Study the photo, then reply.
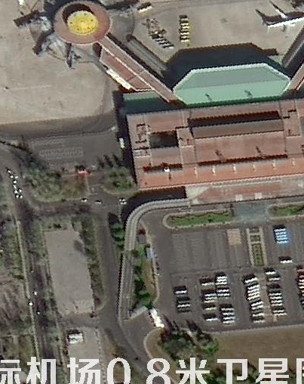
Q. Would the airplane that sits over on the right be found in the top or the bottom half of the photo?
top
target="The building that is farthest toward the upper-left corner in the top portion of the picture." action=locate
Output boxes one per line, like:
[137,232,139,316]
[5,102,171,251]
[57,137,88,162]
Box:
[19,0,139,73]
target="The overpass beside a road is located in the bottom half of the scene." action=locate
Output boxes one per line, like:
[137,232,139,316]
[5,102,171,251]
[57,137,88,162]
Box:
[118,196,195,323]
